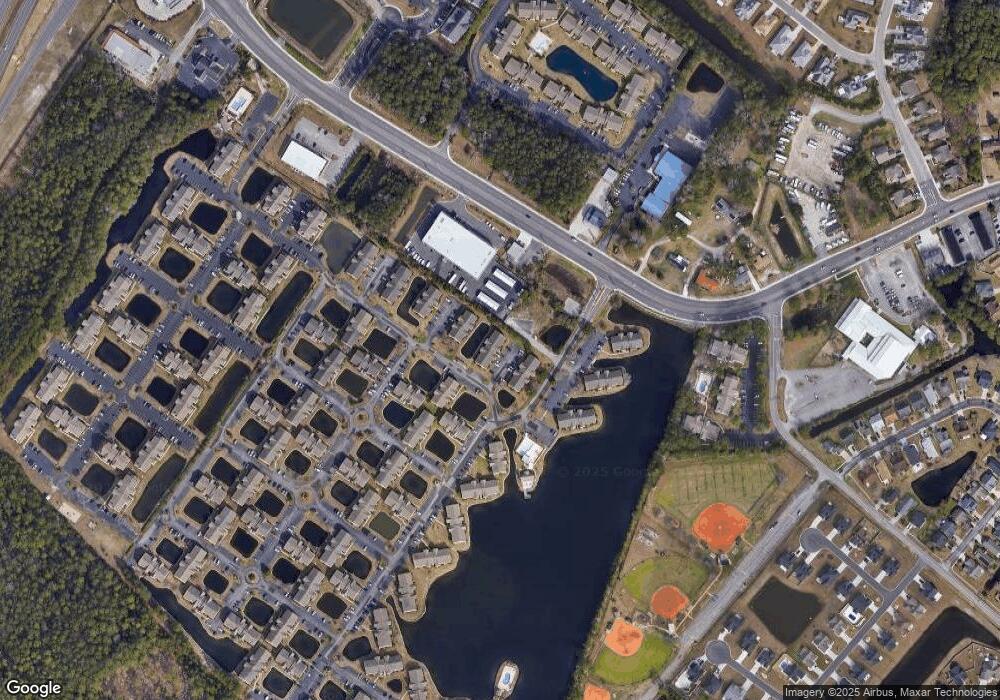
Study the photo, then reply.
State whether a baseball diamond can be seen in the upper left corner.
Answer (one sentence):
No, in the upper left corner there is no baseball diamond.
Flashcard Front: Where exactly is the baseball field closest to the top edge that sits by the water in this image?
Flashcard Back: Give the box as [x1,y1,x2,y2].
[654,455,779,555]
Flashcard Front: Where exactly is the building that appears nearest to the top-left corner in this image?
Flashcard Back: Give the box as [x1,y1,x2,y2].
[104,30,161,81]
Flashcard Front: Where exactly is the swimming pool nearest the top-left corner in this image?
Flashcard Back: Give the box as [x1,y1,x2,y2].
[228,87,254,118]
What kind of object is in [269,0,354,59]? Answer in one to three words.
pond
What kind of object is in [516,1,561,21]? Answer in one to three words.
building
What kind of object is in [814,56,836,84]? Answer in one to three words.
house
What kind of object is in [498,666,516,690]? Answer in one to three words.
swimming pool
